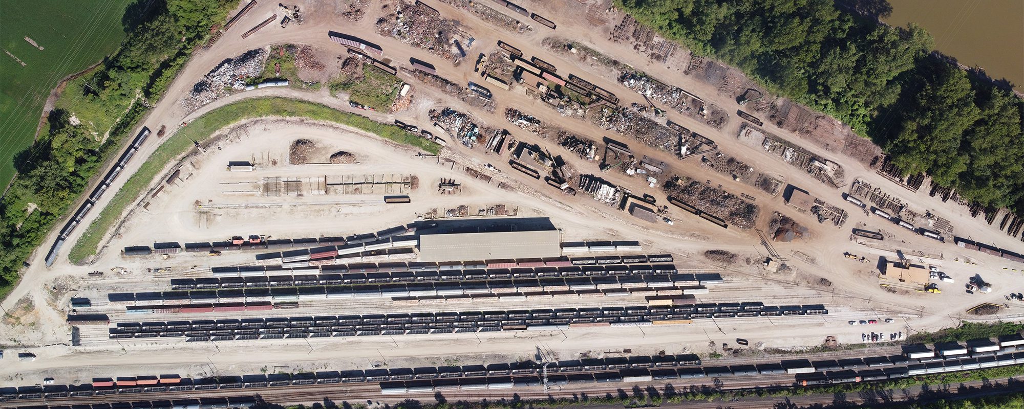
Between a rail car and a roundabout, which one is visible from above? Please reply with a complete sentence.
This aerial view contains a rail car.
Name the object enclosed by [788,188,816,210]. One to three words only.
building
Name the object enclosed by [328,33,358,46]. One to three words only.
rail car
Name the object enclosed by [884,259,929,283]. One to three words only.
building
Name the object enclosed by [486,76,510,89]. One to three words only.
rail car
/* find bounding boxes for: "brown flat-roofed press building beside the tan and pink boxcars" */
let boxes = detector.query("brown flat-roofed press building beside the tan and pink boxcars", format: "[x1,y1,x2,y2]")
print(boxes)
[520,70,549,93]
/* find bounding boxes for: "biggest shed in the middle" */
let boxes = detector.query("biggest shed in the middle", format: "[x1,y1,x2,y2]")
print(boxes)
[419,228,560,262]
